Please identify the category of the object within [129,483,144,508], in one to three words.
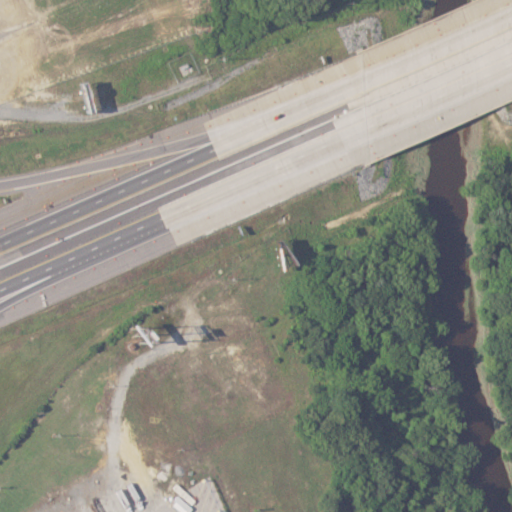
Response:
vehicle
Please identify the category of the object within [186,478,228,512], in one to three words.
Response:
shed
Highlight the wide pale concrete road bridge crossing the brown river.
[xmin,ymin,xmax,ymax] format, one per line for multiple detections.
[364,0,512,165]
